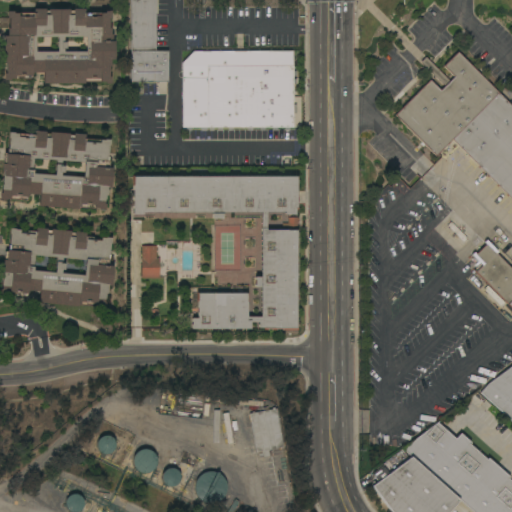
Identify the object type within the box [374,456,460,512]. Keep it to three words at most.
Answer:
building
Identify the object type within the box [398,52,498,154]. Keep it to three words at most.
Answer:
building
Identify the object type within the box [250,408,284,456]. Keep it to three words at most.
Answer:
shed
